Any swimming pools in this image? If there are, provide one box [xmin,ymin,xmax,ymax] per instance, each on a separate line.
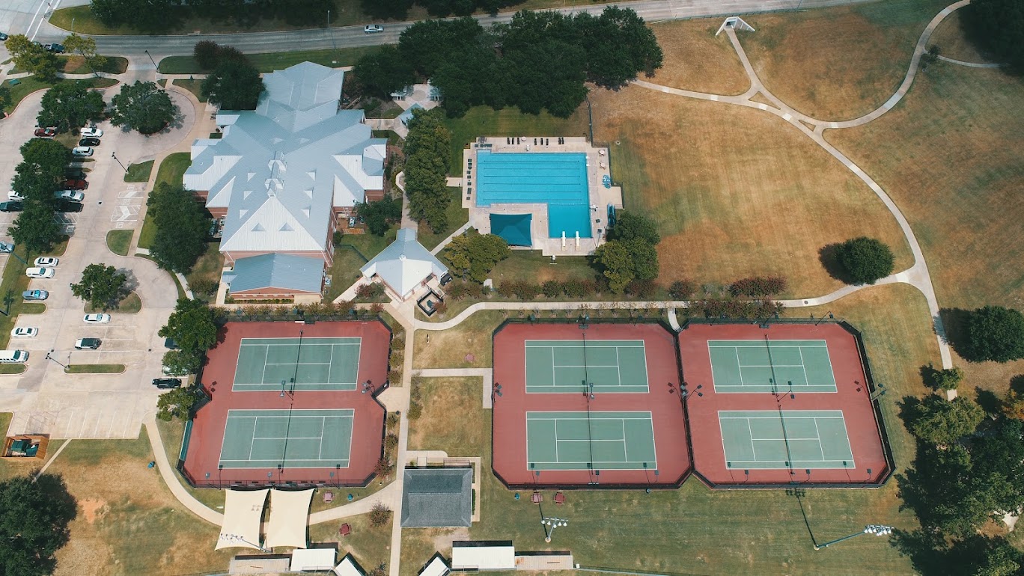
[462,136,623,256]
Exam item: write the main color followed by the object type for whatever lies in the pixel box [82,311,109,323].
white vehicle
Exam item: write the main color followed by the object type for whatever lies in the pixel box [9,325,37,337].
white vehicle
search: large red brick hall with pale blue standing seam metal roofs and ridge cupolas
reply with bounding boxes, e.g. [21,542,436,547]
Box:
[184,60,390,300]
